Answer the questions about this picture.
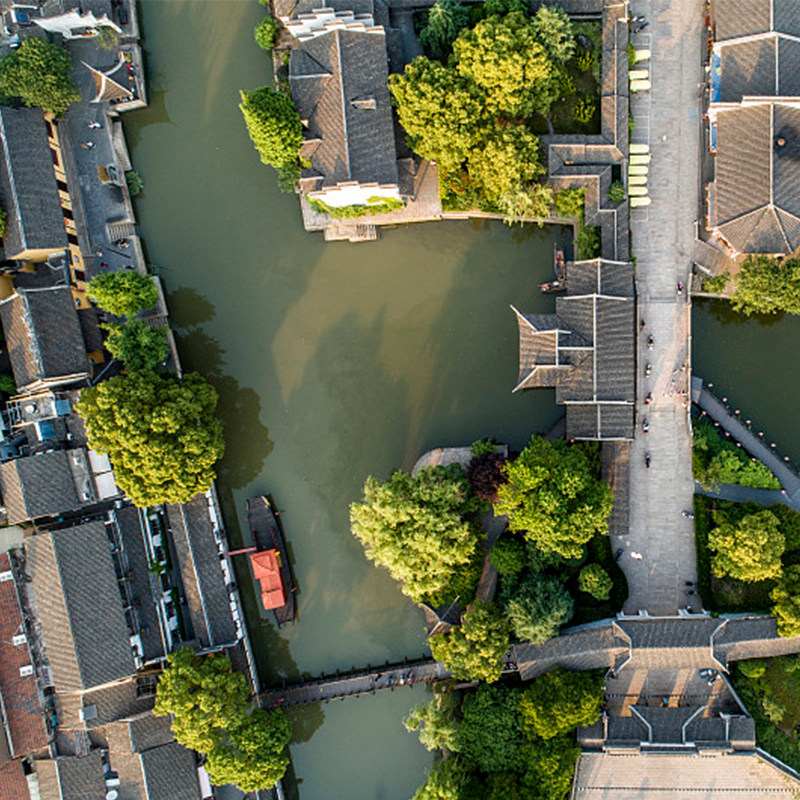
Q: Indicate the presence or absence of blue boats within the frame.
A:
No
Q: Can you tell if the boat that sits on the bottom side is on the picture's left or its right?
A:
left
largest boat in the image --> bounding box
[247,495,297,628]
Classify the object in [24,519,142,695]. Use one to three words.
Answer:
house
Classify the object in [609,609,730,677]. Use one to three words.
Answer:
building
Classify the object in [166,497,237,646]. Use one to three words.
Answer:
house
